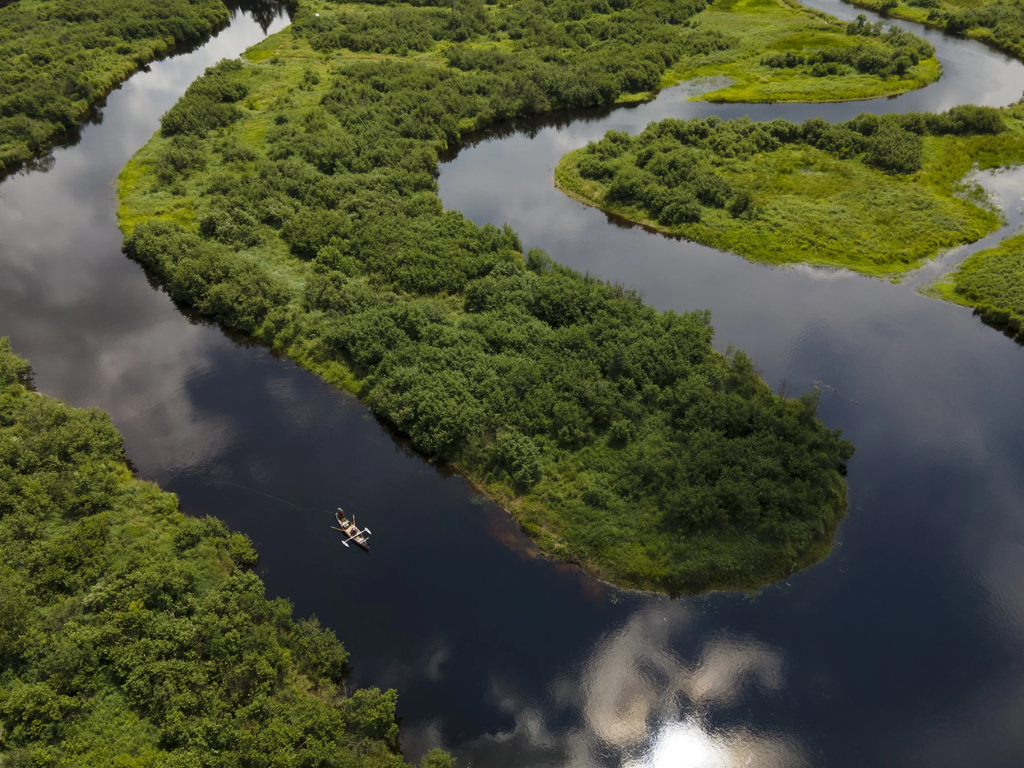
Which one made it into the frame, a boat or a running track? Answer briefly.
boat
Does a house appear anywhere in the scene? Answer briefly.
No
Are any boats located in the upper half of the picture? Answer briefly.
No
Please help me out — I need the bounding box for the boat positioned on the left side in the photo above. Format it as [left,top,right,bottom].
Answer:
[331,512,371,550]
